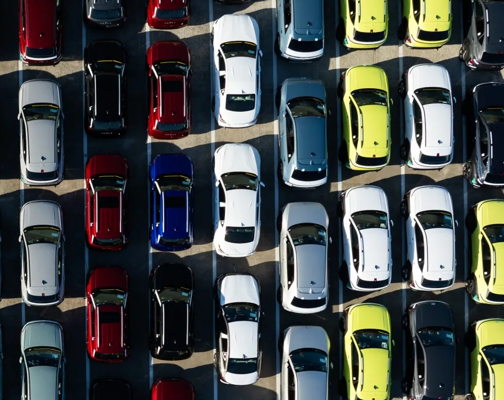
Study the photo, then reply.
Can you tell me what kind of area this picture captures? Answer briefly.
parking lot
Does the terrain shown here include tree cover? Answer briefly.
No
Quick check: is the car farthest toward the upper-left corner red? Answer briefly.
Yes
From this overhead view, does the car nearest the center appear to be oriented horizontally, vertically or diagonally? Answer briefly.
vertically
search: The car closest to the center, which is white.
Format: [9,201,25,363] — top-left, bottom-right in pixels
[210,143,262,258]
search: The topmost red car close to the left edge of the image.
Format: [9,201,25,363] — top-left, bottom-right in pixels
[19,0,63,66]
